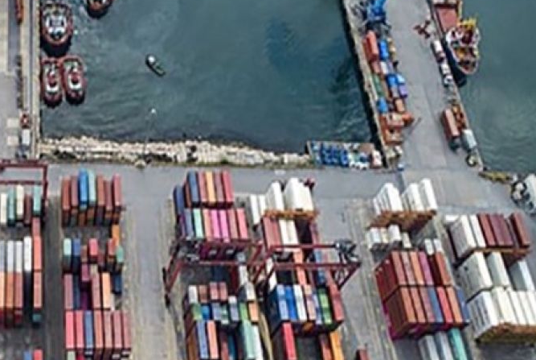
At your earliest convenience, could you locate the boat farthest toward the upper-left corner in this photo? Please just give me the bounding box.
[40,6,73,57]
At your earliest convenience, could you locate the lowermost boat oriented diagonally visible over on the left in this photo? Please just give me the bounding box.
[149,56,165,77]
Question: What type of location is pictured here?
port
